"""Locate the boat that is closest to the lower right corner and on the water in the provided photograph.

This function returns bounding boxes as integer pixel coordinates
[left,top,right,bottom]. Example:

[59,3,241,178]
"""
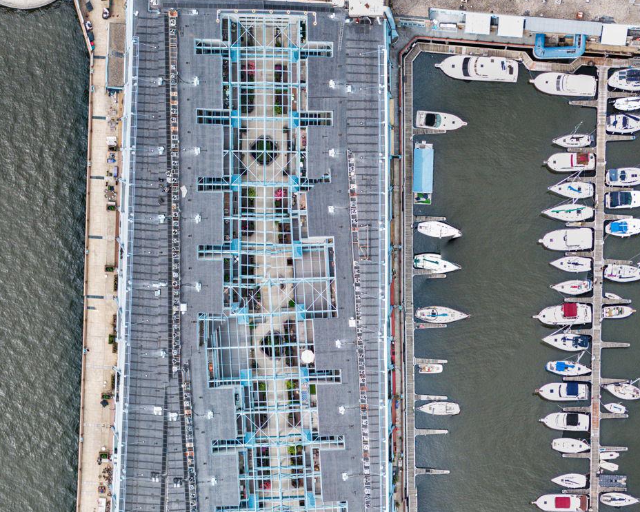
[602,492,640,508]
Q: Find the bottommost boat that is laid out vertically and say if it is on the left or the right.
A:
right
